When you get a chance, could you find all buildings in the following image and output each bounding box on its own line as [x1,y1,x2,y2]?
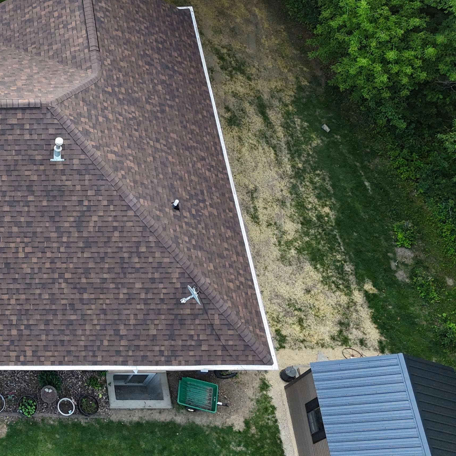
[284,354,456,456]
[0,0,278,378]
